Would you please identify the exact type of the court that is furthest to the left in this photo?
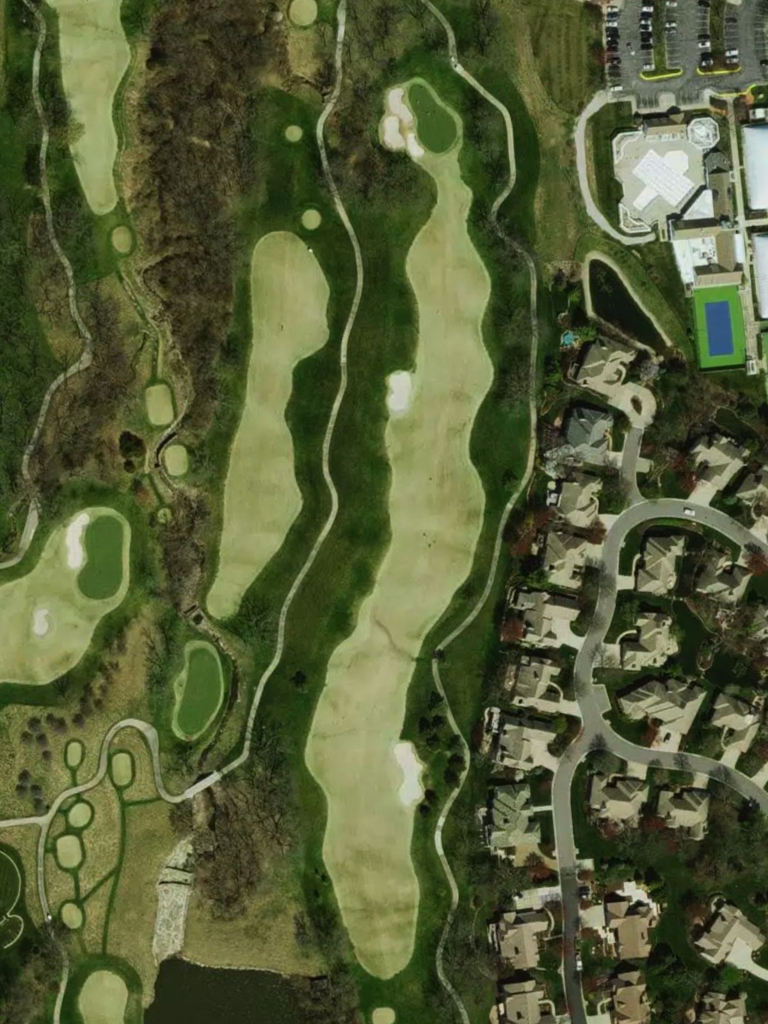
tennis court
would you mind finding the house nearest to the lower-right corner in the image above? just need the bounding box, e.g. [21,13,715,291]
[705,991,749,1024]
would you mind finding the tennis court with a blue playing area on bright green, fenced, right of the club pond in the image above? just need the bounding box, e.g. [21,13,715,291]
[694,284,747,372]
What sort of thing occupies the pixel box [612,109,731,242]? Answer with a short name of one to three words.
building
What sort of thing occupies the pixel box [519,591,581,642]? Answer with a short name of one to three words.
house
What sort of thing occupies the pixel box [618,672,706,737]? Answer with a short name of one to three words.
house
